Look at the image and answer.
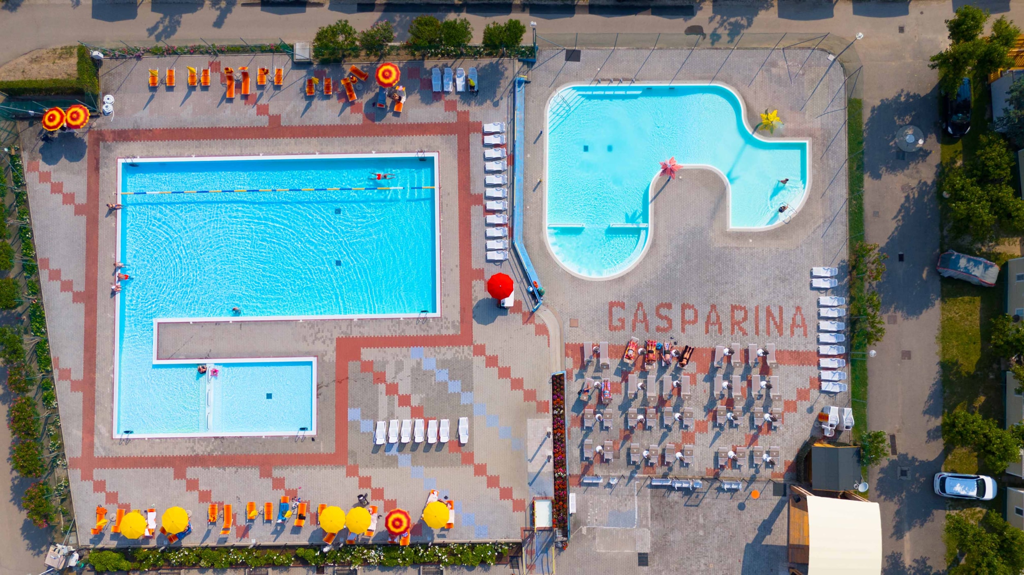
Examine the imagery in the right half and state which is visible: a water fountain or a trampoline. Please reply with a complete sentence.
There is a water fountain in the right half.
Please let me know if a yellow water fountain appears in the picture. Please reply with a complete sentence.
Yes, the frame does contain a yellow water fountain.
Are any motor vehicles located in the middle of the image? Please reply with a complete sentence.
No, I can find no motor vehicle in the middle of the image.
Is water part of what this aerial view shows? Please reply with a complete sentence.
Yes, there is water in the image.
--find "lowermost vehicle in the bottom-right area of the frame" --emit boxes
[931,471,995,502]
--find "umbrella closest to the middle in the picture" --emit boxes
[486,273,514,299]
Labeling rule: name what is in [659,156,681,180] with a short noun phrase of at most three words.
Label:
fountain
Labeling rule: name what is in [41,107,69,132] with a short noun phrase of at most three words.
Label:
umbrella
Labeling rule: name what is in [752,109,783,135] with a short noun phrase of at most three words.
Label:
fountain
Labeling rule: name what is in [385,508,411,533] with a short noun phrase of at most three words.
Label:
umbrella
